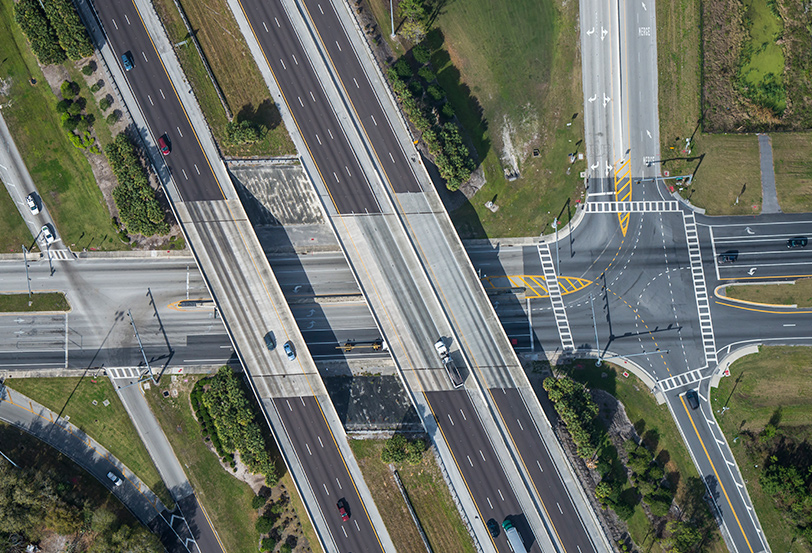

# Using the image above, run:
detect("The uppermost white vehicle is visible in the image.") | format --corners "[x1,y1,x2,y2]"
[25,195,40,216]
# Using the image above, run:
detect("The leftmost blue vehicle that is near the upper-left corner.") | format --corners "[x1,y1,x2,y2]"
[121,54,133,71]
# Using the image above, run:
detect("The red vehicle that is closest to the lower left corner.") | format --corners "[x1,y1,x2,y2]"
[335,501,350,523]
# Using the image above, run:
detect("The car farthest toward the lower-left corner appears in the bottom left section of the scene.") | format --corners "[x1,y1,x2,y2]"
[106,470,123,487]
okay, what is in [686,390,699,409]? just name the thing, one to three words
vehicle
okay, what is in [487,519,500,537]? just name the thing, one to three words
vehicle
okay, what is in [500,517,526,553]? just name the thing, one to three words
truck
